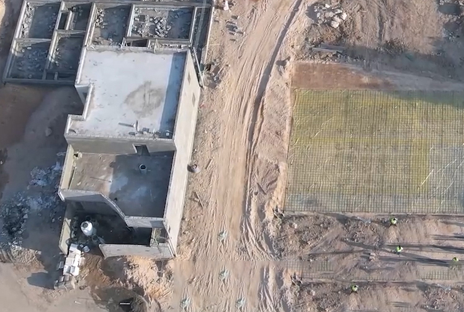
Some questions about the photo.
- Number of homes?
1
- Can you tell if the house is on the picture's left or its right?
left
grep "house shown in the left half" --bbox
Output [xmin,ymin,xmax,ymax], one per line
[58,45,204,257]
